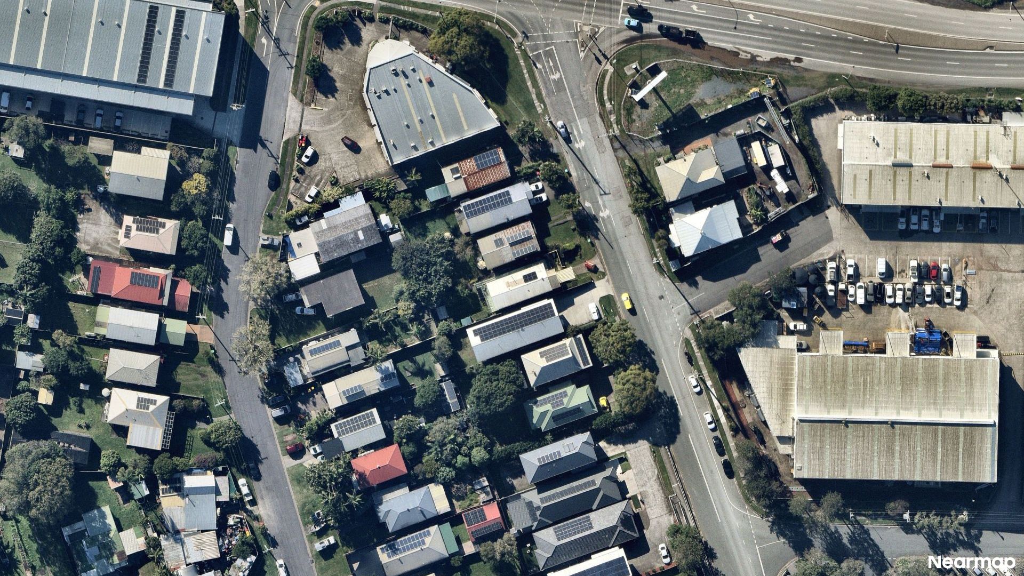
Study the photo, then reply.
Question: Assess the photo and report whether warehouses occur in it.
Yes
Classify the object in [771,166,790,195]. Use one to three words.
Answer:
vehicle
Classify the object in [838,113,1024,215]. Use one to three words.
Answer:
building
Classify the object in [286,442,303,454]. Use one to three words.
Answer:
vehicle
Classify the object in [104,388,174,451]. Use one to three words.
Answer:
house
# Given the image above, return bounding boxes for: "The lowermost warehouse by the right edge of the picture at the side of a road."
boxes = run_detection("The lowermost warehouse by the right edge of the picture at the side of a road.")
[739,321,1002,488]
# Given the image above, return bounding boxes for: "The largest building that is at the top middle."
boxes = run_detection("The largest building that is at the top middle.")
[362,39,500,164]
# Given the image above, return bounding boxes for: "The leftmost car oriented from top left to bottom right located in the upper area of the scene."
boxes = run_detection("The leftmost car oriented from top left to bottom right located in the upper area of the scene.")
[340,135,359,151]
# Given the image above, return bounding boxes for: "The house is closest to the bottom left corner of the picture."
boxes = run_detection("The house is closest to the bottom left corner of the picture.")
[61,505,128,576]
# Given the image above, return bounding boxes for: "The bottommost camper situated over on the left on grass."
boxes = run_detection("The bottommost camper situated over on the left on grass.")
[316,537,334,549]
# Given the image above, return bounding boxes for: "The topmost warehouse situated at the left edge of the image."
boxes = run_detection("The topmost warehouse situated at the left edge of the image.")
[0,0,225,114]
